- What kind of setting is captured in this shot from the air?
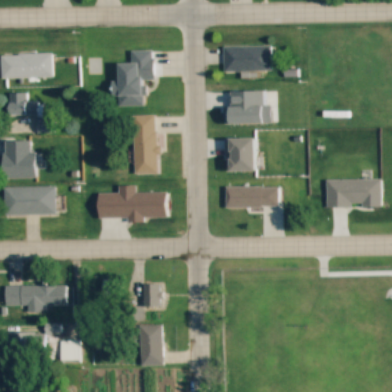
residential area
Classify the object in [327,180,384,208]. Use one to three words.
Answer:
house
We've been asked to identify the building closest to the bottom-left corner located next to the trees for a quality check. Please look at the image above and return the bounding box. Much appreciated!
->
[16,332,46,350]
